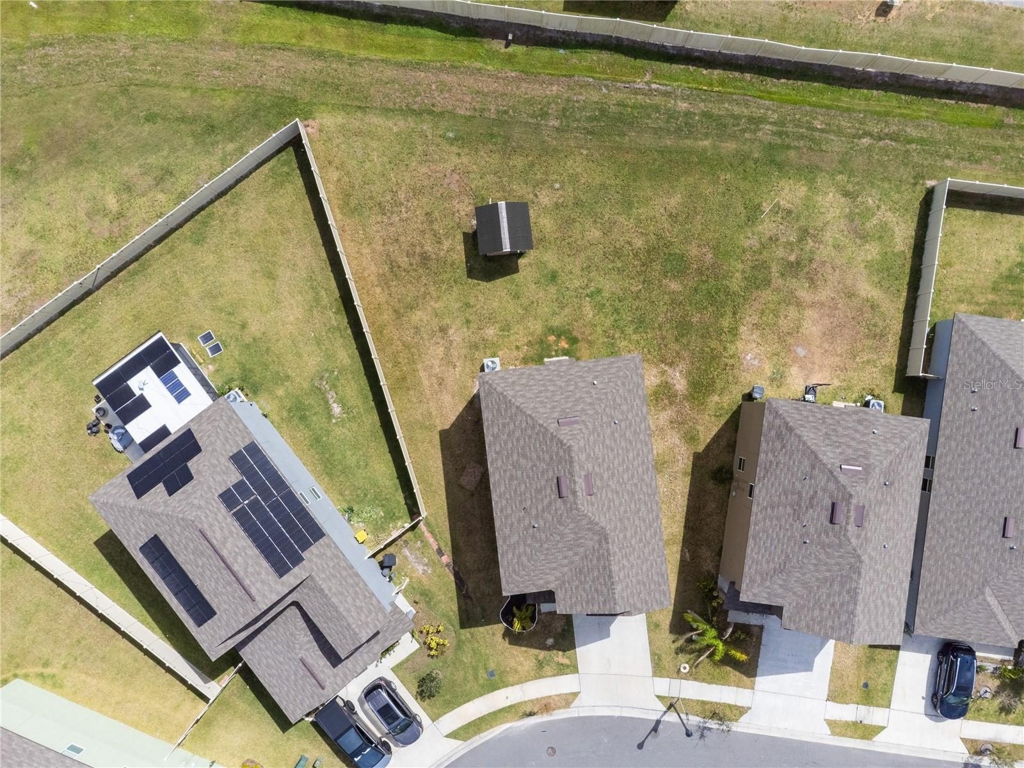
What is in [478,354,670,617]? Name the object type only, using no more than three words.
house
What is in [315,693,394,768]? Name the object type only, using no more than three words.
truck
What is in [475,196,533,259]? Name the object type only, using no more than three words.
shed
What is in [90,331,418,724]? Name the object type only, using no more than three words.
house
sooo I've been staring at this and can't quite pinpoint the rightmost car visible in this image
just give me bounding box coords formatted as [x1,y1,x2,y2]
[930,643,977,720]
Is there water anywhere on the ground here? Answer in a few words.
No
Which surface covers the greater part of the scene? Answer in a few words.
grass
